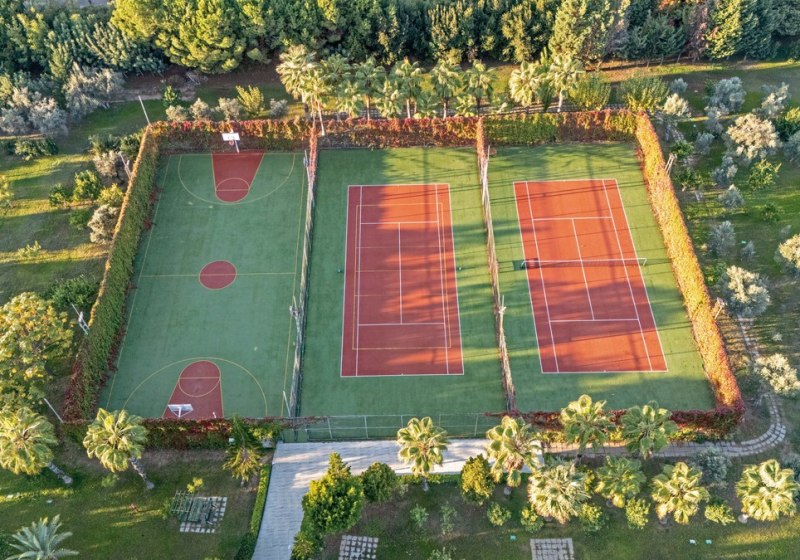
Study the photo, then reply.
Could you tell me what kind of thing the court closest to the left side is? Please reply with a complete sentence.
The court closest to the left side can be classified as a basketball court.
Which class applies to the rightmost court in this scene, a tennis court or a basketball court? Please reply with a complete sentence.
The rightmost court is a tennis court.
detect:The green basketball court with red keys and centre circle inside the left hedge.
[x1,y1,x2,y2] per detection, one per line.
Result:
[90,149,318,441]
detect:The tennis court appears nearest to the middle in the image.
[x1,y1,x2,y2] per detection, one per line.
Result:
[295,144,518,441]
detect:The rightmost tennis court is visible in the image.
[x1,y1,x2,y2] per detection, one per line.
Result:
[484,141,717,430]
